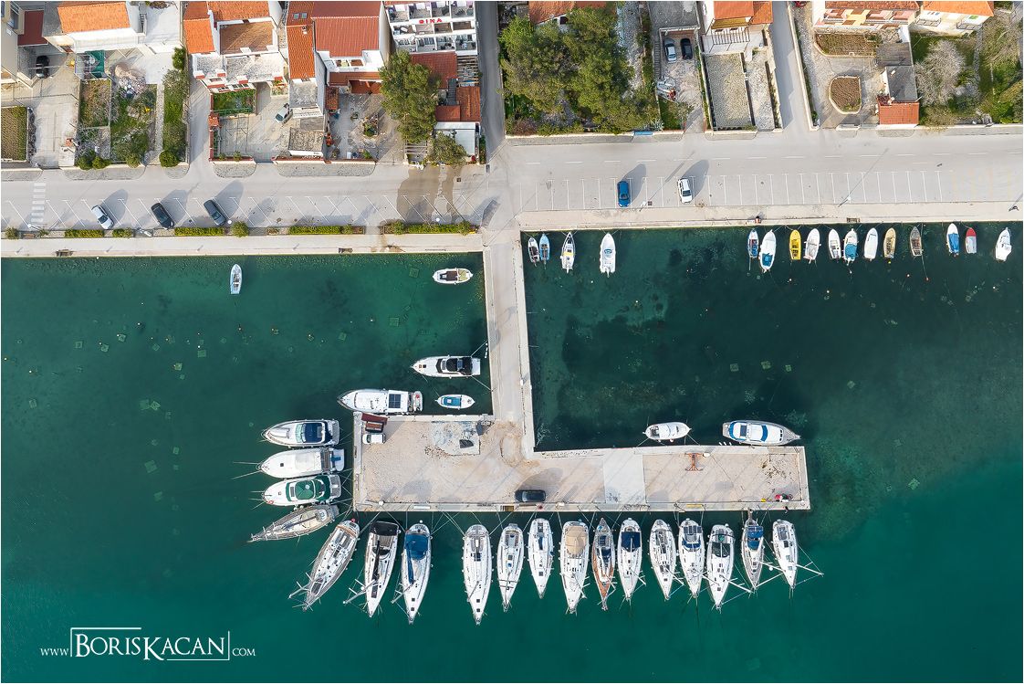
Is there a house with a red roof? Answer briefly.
Yes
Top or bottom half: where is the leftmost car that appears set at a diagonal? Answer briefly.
top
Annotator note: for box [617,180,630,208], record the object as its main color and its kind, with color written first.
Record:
blue vehicle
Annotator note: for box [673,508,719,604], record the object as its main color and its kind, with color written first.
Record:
white boat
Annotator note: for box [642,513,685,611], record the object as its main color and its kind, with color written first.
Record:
white boat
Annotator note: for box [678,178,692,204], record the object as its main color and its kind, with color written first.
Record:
white car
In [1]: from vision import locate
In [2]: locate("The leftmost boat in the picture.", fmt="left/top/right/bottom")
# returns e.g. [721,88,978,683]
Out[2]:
[230,264,242,299]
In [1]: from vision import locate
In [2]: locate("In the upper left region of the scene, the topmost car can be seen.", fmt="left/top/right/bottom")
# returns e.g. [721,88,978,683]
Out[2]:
[36,54,51,80]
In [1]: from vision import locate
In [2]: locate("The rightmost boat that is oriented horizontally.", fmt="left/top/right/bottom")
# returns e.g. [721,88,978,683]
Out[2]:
[718,420,805,449]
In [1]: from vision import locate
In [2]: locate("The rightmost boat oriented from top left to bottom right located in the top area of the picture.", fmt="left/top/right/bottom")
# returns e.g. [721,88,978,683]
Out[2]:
[658,81,679,99]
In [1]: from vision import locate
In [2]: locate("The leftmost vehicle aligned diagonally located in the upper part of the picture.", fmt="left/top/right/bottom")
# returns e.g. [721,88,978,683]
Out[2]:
[88,203,116,231]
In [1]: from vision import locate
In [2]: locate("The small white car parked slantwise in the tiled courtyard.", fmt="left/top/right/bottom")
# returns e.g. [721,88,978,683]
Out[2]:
[273,104,292,124]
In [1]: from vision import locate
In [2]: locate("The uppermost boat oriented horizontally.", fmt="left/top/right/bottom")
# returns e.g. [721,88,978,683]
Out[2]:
[433,267,472,286]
